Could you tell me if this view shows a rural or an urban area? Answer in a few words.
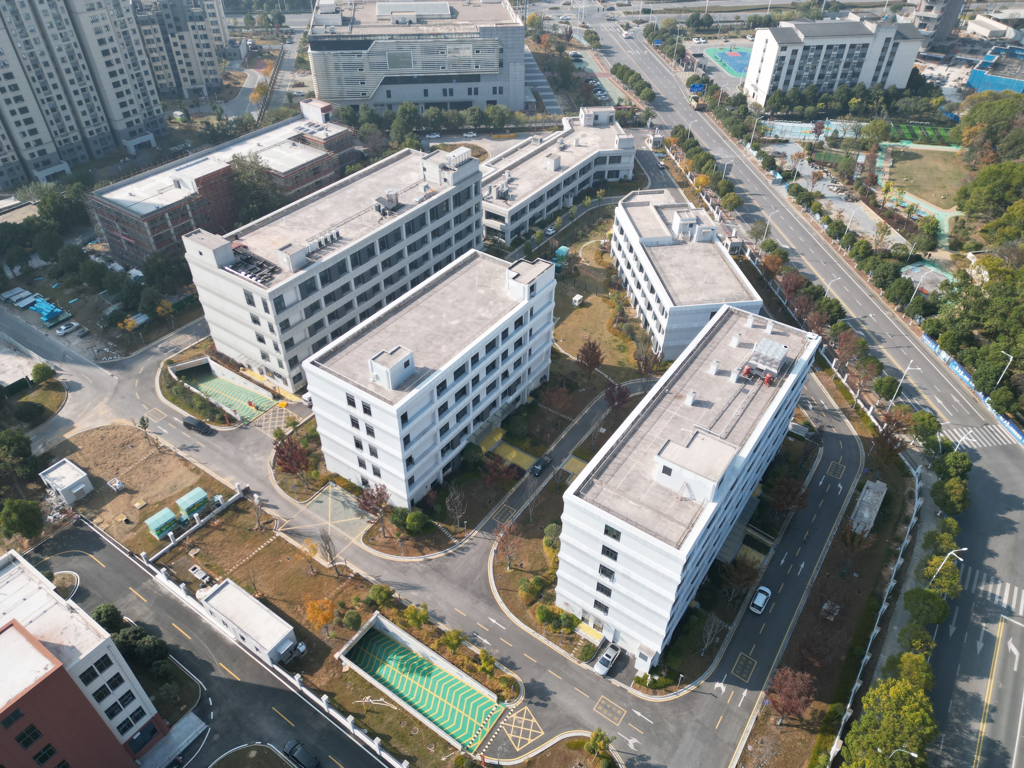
urban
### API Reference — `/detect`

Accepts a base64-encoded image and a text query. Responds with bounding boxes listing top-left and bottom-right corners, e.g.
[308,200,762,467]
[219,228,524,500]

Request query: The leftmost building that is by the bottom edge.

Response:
[0,532,216,768]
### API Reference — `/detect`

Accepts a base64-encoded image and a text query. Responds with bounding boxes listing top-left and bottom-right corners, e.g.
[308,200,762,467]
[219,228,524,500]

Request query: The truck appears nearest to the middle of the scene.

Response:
[530,451,556,477]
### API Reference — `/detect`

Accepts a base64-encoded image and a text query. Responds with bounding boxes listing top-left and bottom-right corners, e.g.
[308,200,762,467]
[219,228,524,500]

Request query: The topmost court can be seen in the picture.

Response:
[705,47,755,77]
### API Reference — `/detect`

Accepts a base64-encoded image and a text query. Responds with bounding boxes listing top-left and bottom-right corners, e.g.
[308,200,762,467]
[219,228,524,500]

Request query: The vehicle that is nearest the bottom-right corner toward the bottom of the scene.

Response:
[749,587,774,618]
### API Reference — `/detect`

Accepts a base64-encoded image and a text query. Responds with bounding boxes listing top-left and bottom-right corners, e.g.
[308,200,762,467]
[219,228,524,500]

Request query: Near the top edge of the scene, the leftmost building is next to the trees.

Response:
[0,0,168,193]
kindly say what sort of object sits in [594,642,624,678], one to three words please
car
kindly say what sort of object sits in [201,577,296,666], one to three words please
building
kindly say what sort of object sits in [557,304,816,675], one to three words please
building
